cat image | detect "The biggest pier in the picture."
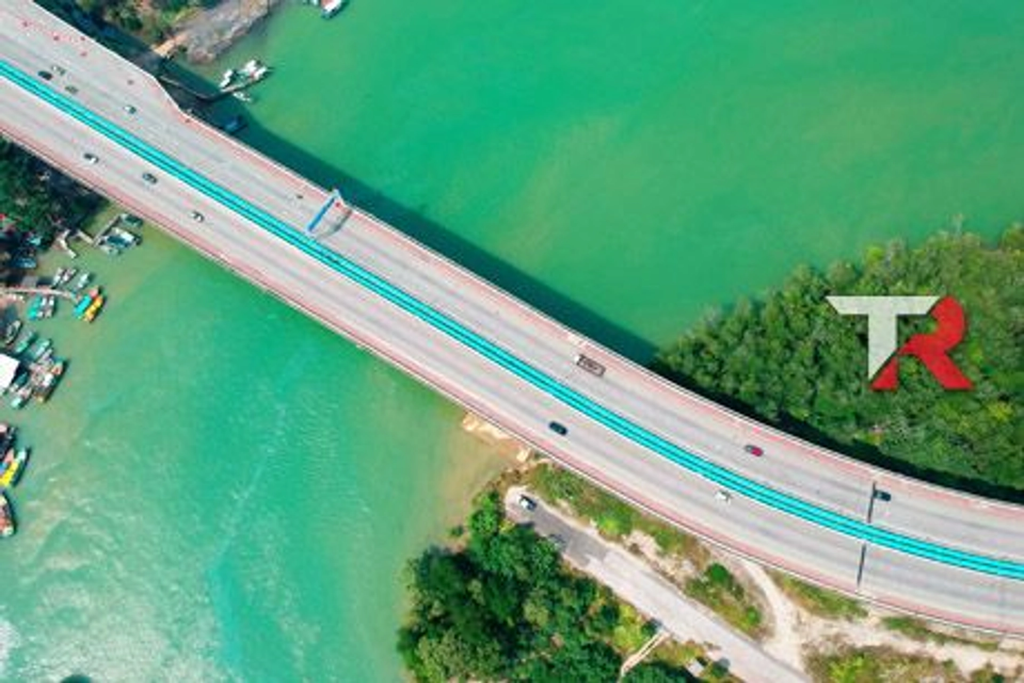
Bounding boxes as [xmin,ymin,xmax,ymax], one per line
[156,72,253,103]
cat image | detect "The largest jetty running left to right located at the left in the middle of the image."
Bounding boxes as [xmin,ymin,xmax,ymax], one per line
[11,288,78,304]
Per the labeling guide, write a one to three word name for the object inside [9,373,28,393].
boat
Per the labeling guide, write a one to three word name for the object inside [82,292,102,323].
boat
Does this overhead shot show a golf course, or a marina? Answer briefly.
marina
